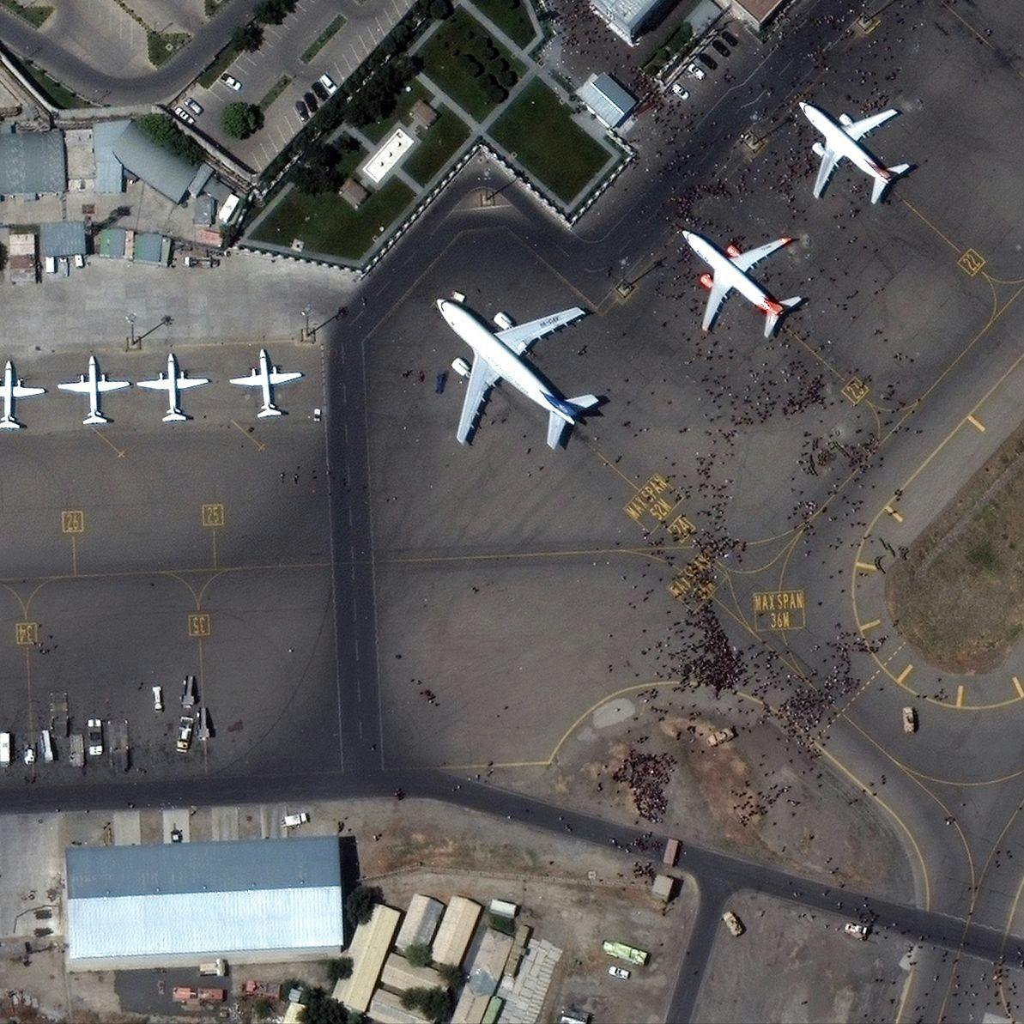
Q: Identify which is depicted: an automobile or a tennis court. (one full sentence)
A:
There is an automobile in the scene.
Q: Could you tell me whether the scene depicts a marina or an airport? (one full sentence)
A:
This image shows an airport.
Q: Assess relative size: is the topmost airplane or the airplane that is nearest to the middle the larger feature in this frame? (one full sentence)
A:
The airplane that is nearest to the middle takes up more space than the topmost airplane does.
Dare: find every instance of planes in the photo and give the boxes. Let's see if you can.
[683,230,804,335]
[137,353,209,422]
[230,349,301,418]
[0,361,45,430]
[799,102,911,204]
[436,299,599,448]
[58,356,129,425]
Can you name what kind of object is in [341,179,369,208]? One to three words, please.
shed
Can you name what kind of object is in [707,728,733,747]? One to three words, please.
vehicle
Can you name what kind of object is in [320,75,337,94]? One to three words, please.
car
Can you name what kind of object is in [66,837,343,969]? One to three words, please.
hangar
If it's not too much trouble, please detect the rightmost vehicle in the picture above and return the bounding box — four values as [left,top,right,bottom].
[904,707,916,733]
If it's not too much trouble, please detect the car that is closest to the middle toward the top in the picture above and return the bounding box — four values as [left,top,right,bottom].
[435,372,447,394]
